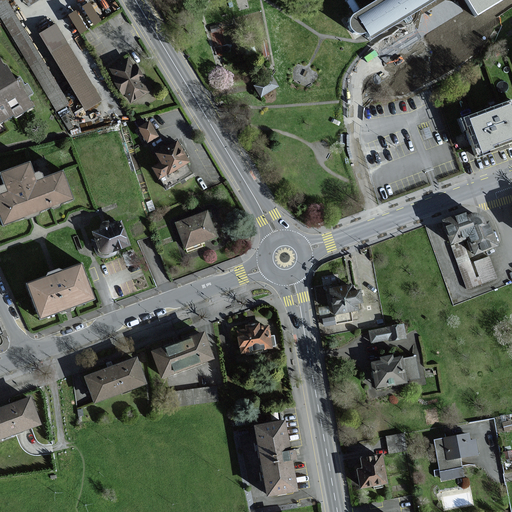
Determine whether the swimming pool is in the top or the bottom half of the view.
bottom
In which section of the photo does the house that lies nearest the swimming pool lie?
bottom right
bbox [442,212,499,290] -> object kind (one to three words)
house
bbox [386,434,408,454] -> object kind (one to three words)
building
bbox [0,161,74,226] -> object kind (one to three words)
house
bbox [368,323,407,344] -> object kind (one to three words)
building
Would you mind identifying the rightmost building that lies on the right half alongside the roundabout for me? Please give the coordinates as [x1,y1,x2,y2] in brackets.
[319,274,364,326]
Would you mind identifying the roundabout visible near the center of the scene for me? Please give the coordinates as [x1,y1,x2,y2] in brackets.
[257,229,313,285]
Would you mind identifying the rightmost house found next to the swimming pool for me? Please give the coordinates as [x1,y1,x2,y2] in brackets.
[434,433,479,482]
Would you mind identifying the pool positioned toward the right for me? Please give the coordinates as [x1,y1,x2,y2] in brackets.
[441,492,474,511]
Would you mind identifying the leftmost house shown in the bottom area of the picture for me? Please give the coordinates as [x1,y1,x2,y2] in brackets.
[0,396,42,440]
